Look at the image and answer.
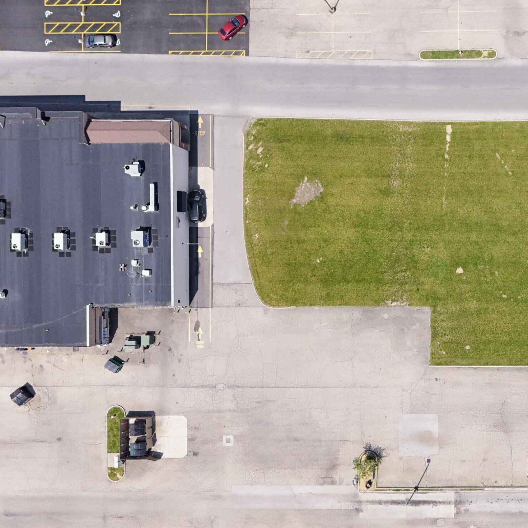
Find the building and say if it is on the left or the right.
left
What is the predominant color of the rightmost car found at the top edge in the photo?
red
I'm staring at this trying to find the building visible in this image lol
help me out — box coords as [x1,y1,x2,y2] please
[0,107,195,348]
